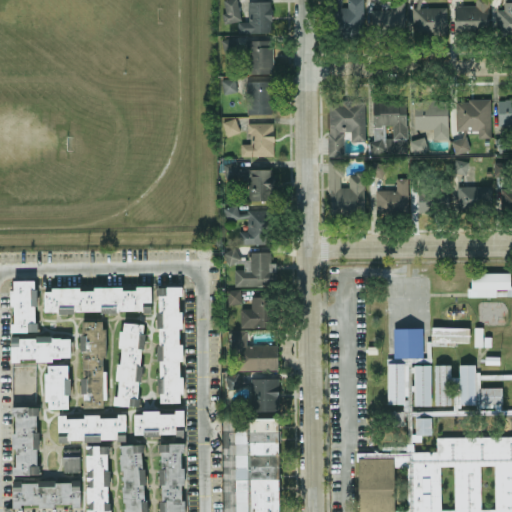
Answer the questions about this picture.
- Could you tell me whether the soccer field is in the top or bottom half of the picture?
top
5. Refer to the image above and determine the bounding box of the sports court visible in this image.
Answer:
[479,302,508,327]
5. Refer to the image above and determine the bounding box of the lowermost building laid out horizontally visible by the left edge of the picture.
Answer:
[12,481,81,510]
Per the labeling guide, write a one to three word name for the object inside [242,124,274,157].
house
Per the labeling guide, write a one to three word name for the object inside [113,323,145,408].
building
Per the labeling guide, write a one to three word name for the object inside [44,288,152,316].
building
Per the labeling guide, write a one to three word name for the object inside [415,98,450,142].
house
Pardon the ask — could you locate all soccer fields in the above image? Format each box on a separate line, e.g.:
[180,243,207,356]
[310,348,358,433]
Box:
[0,0,215,248]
